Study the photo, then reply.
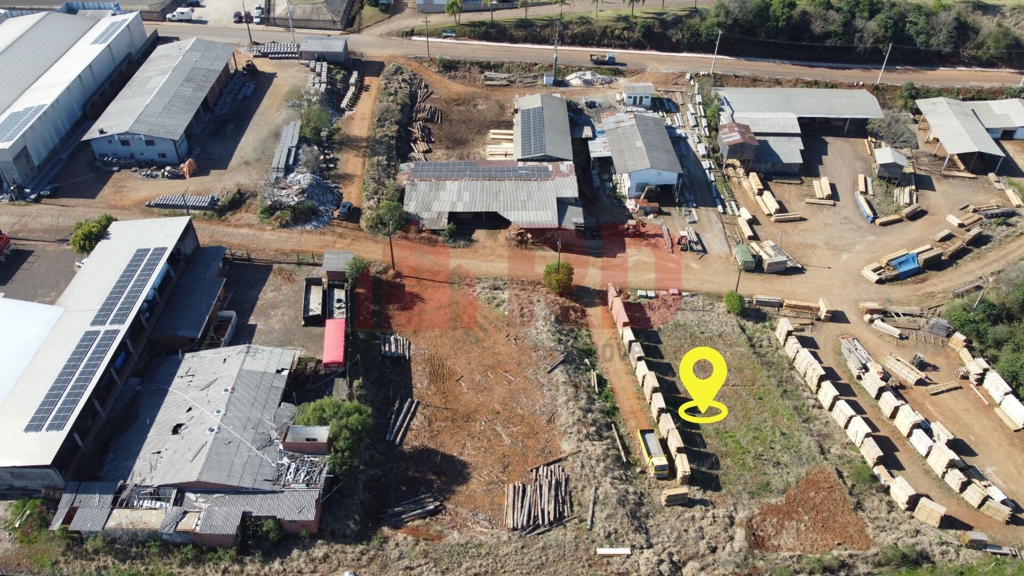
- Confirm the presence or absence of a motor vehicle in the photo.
Yes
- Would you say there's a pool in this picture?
No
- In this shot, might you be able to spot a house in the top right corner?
Yes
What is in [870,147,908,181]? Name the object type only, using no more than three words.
shed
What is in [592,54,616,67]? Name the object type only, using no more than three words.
vehicle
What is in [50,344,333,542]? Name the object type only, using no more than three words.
house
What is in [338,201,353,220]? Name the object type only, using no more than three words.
car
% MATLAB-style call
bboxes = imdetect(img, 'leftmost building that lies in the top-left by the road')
[0,0,146,187]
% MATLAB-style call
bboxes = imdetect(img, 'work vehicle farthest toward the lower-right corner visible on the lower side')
[907,345,940,373]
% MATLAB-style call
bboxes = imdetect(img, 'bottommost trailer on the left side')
[323,319,349,381]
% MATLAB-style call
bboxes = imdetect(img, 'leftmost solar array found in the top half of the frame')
[0,104,47,146]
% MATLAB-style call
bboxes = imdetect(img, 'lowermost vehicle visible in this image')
[640,426,673,477]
